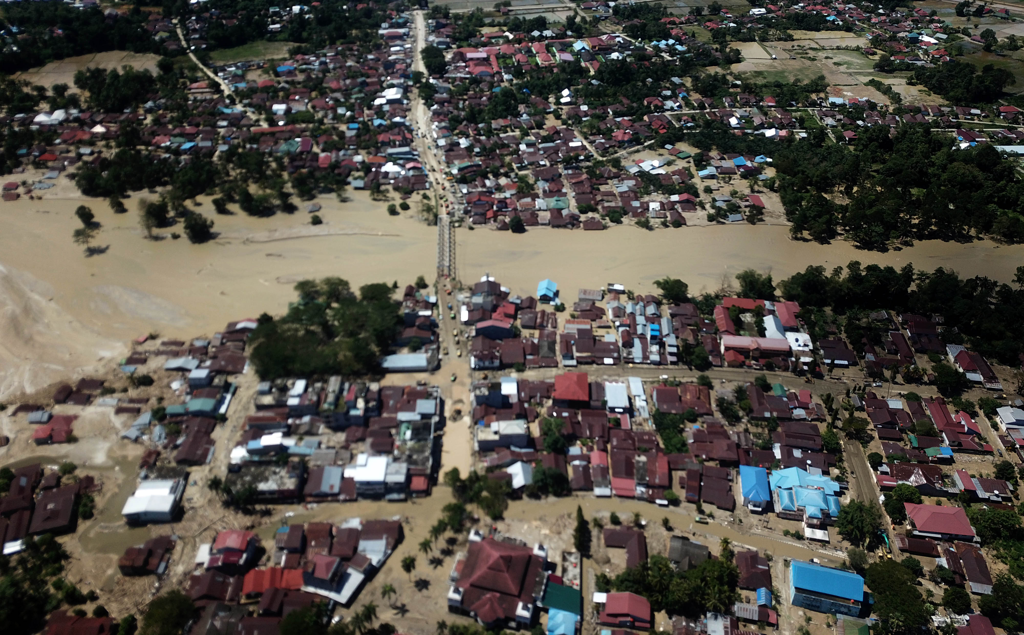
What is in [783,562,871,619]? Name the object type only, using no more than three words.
building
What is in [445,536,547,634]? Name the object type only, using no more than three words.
building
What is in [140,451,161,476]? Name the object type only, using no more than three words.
house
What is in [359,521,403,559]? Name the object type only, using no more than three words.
house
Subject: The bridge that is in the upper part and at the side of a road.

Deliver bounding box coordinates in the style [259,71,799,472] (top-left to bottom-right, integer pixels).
[438,219,453,281]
